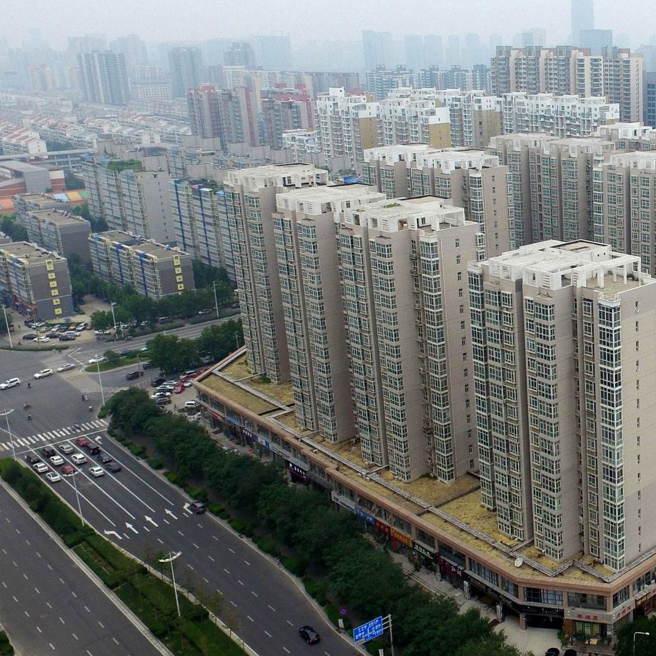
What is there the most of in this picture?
buildings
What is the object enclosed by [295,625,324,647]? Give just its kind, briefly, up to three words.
car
